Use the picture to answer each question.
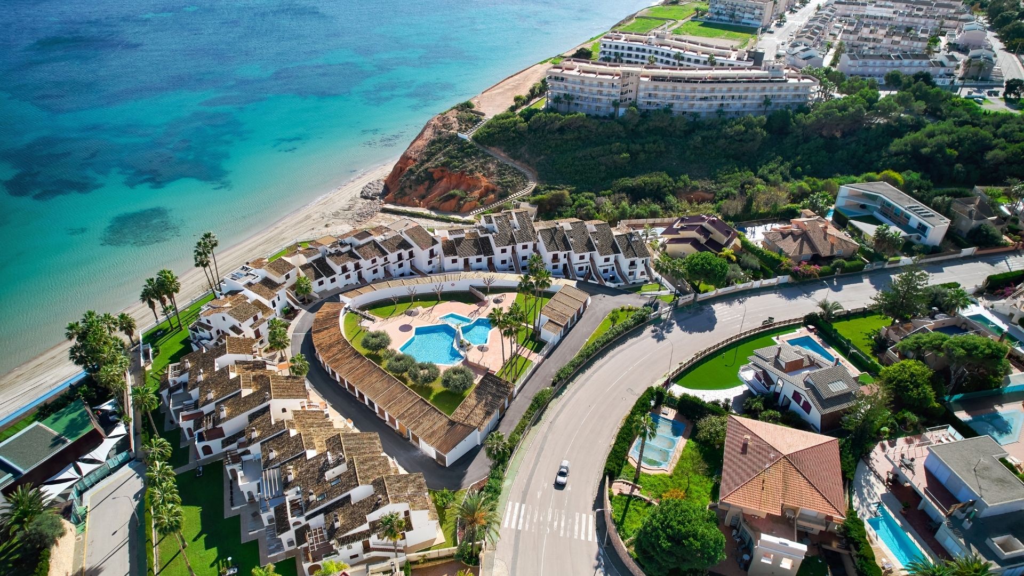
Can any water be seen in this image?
Yes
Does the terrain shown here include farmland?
No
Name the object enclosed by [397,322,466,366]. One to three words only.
swimming pool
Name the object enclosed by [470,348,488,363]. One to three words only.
umbrella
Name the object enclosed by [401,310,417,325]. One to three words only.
umbrella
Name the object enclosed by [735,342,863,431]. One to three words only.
house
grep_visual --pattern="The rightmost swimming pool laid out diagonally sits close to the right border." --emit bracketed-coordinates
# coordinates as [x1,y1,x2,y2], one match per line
[967,313,1024,353]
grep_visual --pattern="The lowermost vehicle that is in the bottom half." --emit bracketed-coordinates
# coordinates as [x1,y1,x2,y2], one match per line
[554,455,571,486]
